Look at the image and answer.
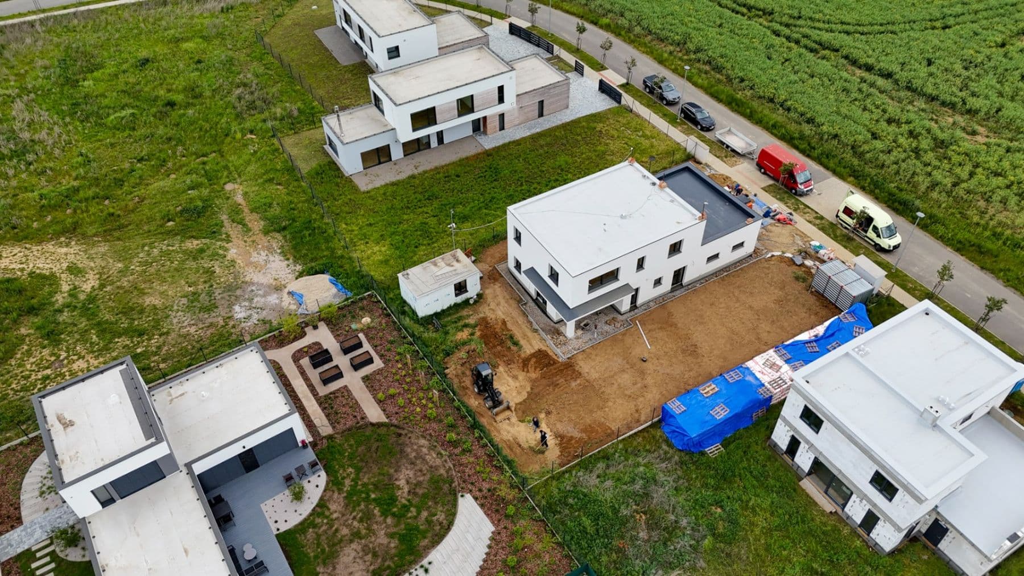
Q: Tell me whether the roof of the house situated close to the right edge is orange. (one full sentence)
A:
No, the roof of the house situated close to the right edge is white.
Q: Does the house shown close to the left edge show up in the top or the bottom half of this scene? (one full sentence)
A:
The bottom half of the photo is where the house shown close to the left edge is.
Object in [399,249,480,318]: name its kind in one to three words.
building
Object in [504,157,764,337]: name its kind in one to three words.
house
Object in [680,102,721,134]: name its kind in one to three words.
car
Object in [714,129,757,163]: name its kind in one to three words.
trailer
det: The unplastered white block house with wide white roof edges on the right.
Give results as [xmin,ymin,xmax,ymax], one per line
[766,299,1024,576]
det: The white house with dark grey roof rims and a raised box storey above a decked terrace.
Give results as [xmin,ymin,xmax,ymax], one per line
[33,345,302,576]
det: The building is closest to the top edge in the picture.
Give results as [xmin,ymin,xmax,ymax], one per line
[328,0,490,72]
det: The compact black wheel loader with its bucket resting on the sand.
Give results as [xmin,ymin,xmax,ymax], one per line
[469,360,517,427]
